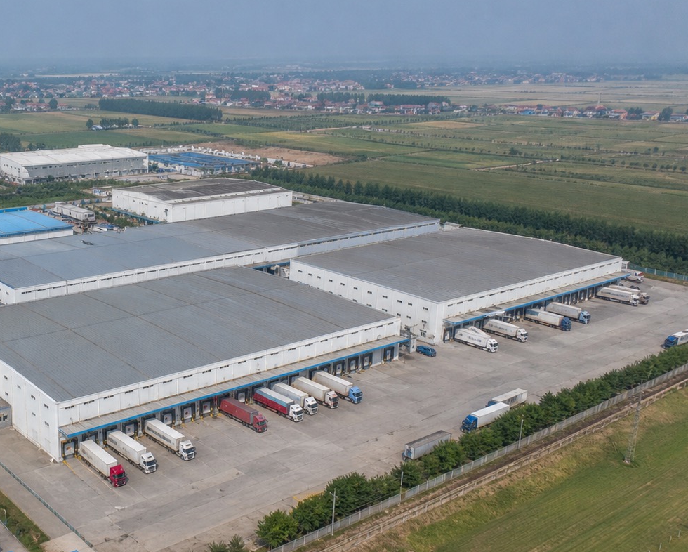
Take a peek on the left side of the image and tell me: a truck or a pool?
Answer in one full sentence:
Visible on the left side of the image is a truck.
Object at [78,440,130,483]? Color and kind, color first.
white truck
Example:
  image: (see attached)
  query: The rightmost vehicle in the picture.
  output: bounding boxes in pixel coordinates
[664,326,688,348]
